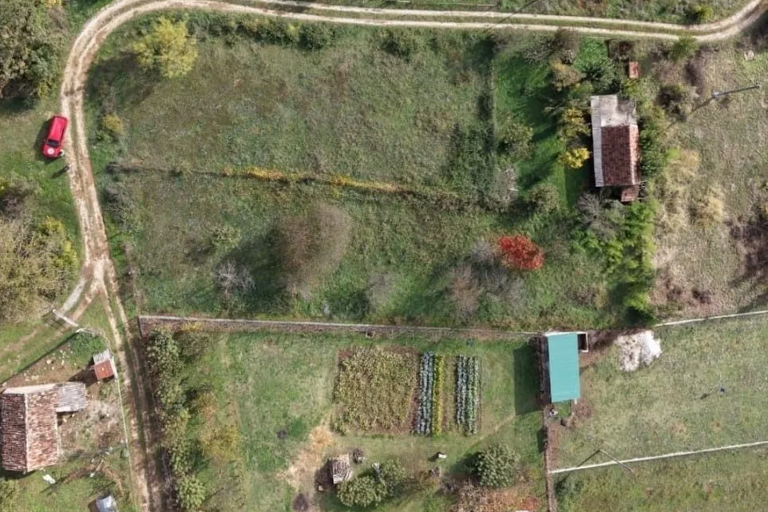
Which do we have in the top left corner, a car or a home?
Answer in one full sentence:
Visible in the top left corner is a car.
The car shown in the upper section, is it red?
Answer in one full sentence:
Yes, the car shown in the upper section is indeed red.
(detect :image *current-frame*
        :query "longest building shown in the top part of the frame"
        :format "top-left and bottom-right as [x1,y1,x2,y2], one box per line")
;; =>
[588,94,643,201]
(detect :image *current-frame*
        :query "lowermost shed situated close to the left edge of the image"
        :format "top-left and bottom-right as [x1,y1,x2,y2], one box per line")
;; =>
[1,376,92,474]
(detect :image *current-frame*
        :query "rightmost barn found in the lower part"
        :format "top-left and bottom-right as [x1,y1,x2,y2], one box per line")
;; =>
[541,330,580,408]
